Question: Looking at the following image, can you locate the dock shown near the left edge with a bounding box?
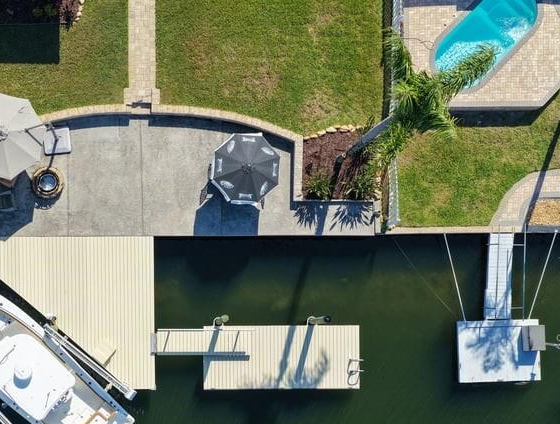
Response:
[0,238,154,389]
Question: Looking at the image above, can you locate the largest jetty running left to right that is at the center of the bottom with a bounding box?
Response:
[203,314,366,390]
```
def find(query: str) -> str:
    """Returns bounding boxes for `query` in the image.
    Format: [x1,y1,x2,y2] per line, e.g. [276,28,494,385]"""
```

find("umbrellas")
[210,134,280,203]
[0,94,71,180]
